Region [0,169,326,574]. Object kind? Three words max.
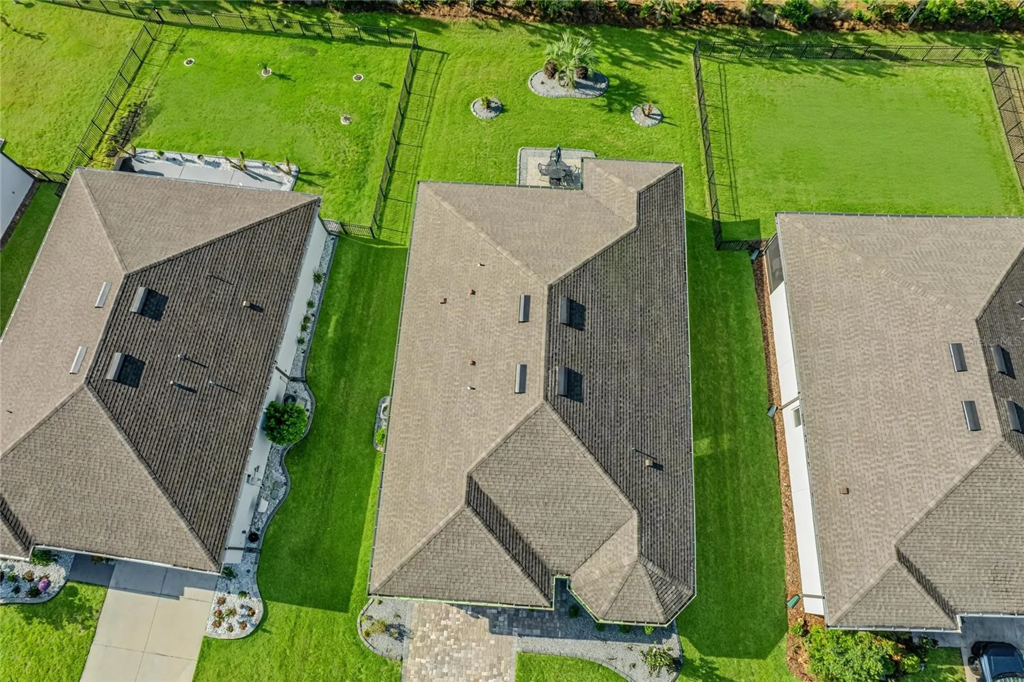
house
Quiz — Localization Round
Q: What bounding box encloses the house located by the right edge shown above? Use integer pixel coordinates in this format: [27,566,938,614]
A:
[757,213,1024,633]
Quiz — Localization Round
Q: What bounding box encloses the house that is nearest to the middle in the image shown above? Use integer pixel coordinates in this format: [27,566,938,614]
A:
[367,158,697,626]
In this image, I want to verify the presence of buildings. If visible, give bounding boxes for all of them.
[367,158,697,626]
[757,213,1024,633]
[0,141,34,242]
[0,169,326,574]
